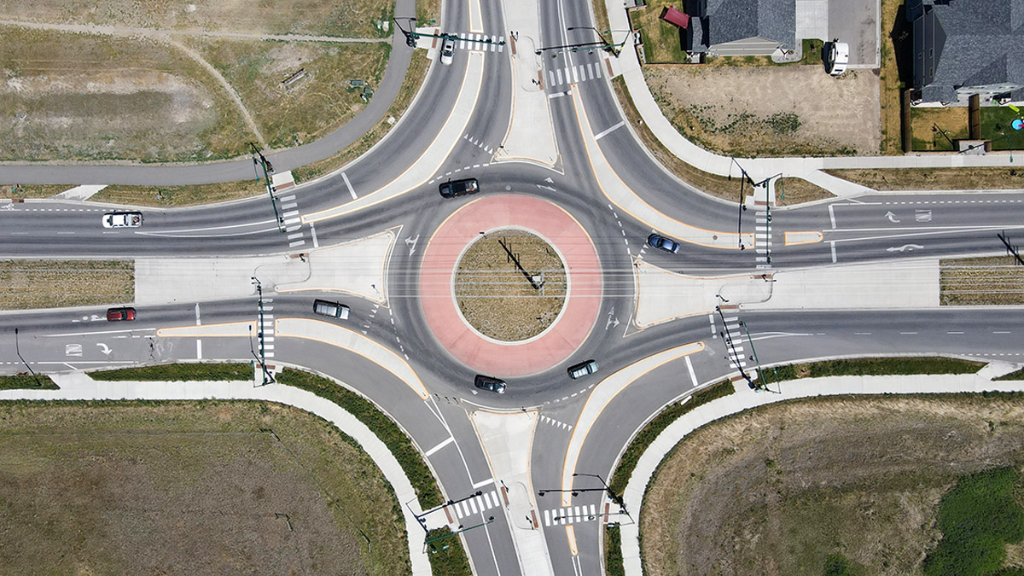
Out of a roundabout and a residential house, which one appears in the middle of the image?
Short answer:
roundabout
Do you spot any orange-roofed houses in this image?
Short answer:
No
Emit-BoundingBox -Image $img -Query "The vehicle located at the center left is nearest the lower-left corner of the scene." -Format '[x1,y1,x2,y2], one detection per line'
[105,308,138,323]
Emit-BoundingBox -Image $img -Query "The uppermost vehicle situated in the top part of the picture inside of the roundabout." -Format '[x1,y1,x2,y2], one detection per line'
[440,178,480,198]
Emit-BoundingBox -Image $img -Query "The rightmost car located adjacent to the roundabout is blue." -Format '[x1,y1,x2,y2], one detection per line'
[647,235,681,254]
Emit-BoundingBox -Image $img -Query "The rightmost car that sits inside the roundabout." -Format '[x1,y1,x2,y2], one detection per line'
[567,360,600,380]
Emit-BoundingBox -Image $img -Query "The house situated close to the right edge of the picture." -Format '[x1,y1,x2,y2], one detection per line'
[901,0,1024,106]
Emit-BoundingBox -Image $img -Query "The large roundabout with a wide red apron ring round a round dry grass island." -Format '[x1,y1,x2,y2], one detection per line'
[386,160,637,411]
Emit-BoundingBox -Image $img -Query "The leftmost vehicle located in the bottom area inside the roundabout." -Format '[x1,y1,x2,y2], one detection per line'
[475,376,508,394]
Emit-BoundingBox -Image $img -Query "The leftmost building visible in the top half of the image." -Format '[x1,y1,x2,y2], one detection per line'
[682,0,792,65]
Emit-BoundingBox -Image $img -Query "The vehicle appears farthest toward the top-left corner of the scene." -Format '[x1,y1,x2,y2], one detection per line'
[102,212,144,228]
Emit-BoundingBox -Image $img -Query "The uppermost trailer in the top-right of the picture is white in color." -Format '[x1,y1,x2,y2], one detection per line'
[826,41,850,78]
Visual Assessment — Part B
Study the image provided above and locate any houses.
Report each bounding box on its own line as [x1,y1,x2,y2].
[901,0,1024,106]
[682,0,792,65]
